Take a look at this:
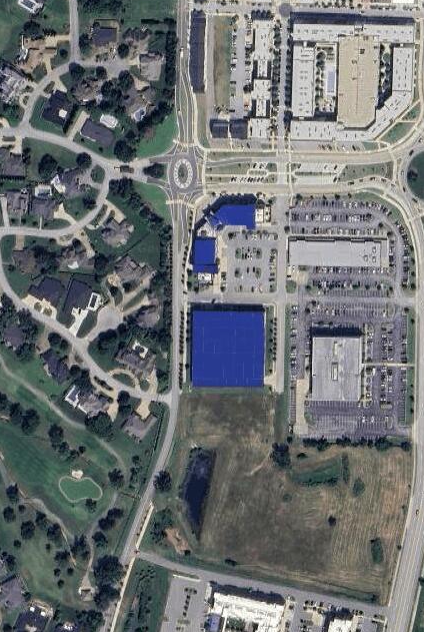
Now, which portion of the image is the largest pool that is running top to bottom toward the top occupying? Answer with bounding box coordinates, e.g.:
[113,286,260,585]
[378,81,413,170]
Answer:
[316,44,337,116]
